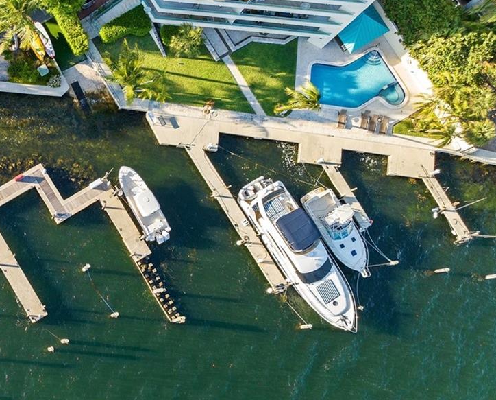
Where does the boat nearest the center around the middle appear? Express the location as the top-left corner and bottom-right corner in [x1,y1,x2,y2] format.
[232,172,271,201]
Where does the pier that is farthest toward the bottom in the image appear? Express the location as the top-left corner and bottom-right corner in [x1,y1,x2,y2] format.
[130,257,184,325]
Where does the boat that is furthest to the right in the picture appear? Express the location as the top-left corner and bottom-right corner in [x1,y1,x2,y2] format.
[298,187,374,284]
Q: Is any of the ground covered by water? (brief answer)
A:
Yes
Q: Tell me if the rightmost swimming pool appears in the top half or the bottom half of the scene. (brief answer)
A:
top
